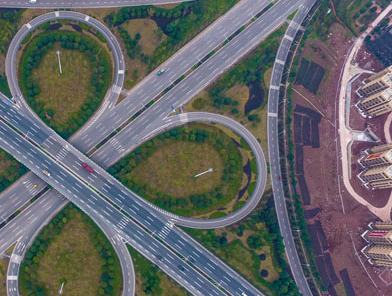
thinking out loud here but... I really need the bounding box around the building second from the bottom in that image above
[357,144,392,190]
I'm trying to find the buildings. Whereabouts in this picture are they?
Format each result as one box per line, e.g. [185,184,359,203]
[360,219,392,268]
[354,67,392,118]
[357,144,392,190]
